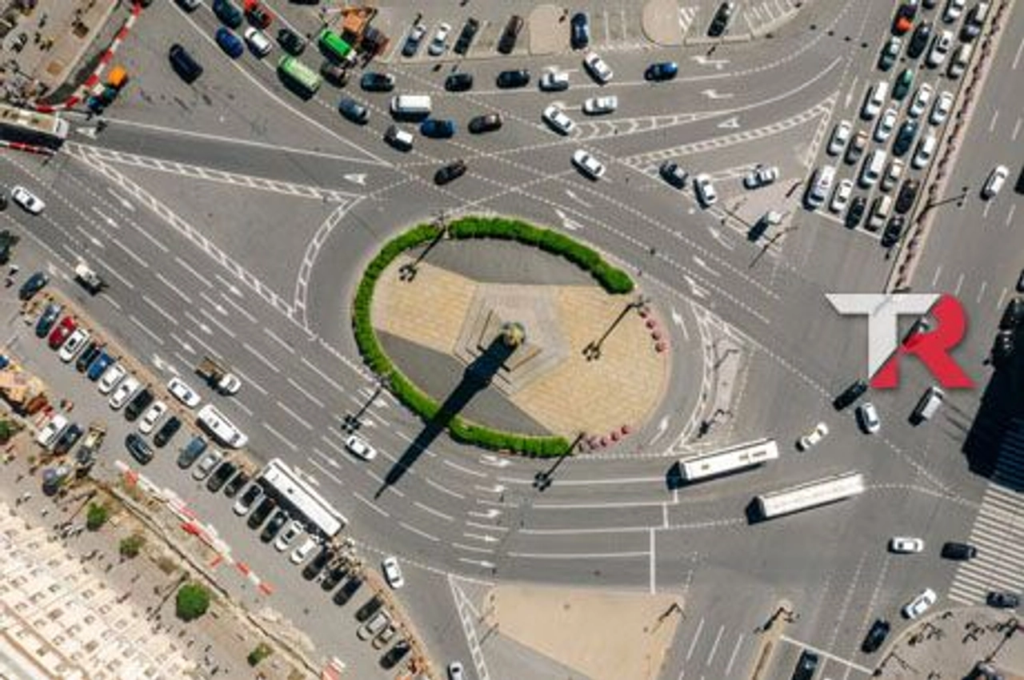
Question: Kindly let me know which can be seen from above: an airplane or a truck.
truck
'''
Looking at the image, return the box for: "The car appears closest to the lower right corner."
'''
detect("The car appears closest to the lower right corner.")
[981,590,1019,607]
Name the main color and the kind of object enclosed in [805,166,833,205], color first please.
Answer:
white vehicle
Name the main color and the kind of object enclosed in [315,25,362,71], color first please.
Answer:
green truck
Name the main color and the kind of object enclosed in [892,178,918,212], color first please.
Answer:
black car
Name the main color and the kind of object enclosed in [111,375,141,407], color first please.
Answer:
white car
